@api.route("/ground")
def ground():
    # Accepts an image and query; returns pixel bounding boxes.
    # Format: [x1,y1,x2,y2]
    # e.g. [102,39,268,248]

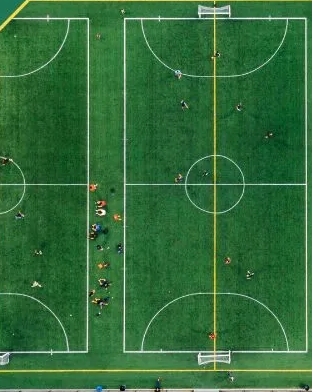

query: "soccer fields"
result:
[0,0,312,390]
[122,16,307,352]
[0,16,89,355]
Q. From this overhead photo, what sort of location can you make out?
sports ground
